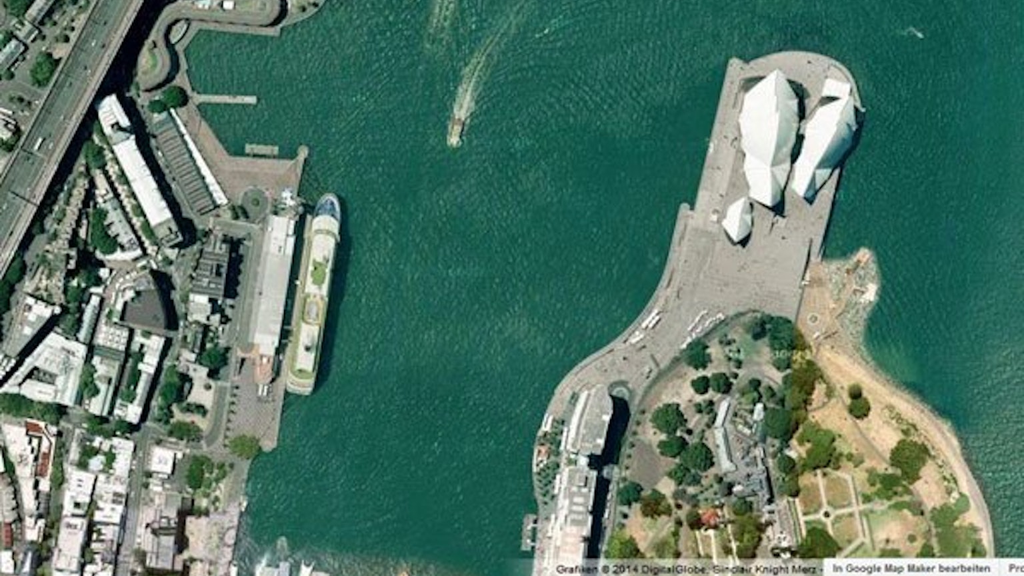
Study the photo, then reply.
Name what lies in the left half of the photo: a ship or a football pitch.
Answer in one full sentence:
The one visible in the left half of the photo is a ship.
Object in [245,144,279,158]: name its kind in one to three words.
pier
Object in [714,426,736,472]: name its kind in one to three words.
house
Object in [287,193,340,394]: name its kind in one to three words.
ship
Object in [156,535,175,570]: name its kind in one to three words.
building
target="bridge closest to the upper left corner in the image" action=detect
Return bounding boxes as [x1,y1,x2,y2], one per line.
[0,0,143,276]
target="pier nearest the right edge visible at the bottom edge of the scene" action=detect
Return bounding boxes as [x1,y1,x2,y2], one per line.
[521,514,540,551]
